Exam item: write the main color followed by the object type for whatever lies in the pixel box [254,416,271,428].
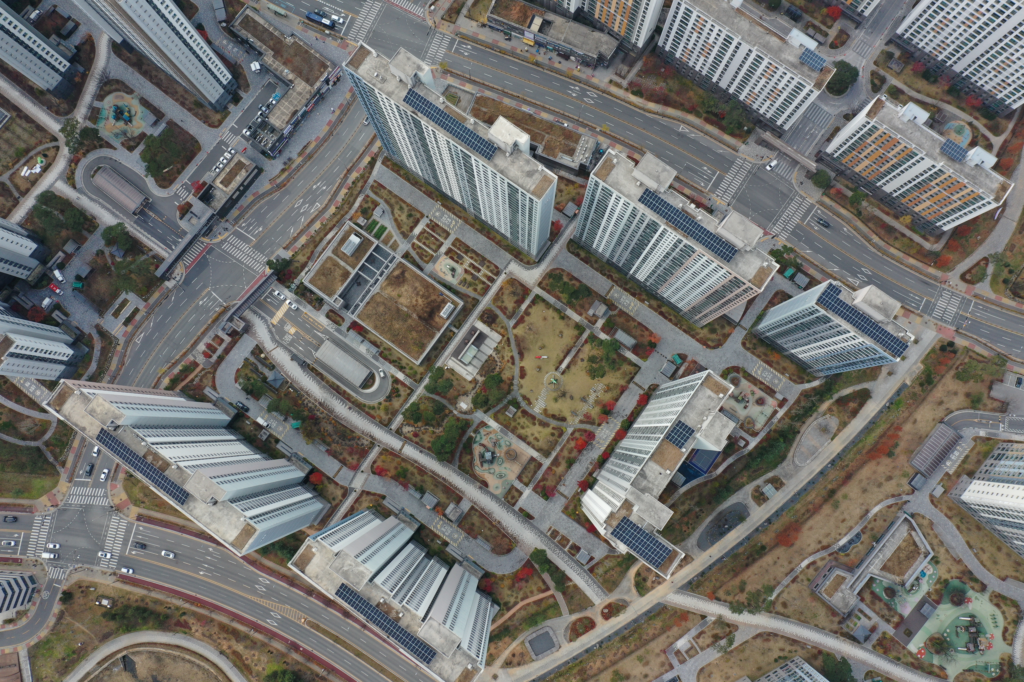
white vehicle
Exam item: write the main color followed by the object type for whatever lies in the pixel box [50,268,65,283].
white vehicle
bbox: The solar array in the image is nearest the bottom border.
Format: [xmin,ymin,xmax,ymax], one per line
[334,582,437,664]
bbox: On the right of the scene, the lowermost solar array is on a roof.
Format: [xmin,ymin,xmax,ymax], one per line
[609,515,672,568]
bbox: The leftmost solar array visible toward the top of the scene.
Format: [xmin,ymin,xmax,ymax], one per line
[402,88,497,162]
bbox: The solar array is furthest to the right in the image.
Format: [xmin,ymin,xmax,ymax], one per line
[937,139,967,163]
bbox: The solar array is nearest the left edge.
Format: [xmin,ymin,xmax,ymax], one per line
[96,427,191,507]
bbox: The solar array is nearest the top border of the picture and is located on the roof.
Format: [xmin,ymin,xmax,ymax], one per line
[797,51,826,73]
